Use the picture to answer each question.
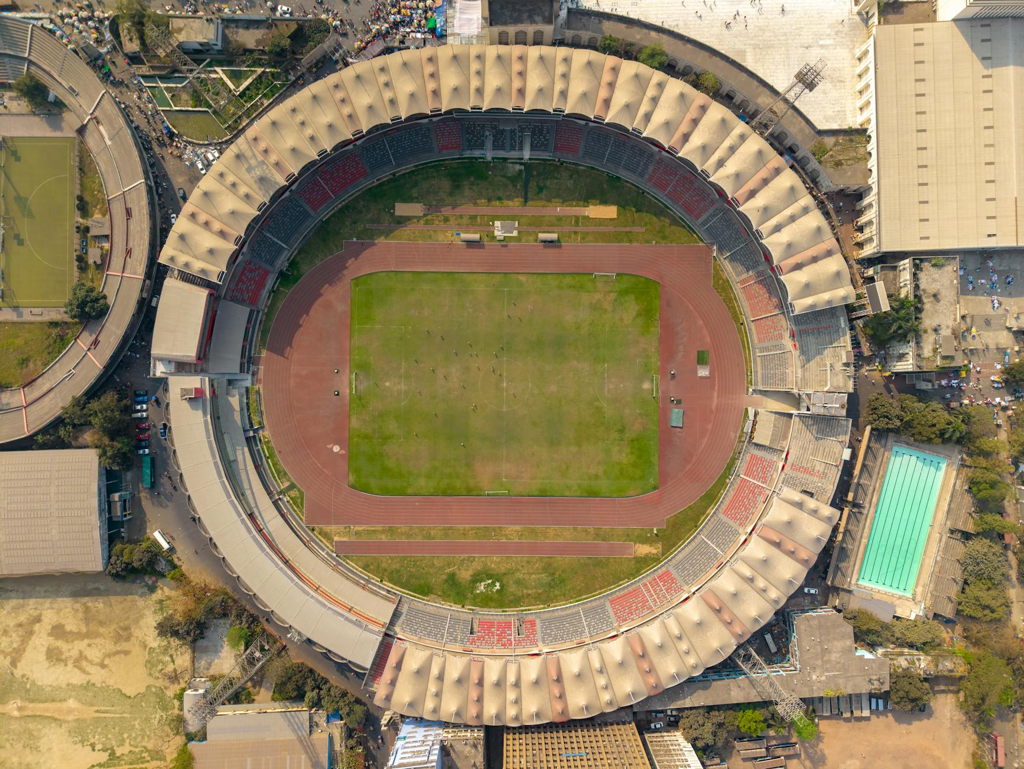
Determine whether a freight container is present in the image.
No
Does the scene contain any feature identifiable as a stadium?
Yes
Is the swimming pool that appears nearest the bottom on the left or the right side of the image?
right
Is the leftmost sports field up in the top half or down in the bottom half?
top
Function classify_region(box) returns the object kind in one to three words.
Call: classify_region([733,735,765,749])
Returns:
vehicle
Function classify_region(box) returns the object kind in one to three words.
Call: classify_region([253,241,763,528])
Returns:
running track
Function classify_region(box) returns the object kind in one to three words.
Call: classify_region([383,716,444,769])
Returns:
building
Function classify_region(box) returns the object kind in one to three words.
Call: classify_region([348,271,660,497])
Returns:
soccer field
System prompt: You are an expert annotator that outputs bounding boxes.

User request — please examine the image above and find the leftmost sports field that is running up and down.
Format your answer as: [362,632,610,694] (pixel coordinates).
[0,136,76,308]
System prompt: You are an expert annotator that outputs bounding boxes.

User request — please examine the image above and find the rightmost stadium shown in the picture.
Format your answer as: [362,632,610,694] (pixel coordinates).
[151,39,857,728]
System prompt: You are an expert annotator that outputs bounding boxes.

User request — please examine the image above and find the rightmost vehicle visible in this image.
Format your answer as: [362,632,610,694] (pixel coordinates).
[990,732,1005,766]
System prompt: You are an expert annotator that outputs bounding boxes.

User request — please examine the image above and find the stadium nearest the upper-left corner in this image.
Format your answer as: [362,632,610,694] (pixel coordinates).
[0,14,165,451]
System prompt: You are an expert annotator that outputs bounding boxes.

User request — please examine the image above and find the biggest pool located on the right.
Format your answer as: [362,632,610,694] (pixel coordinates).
[844,435,961,618]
